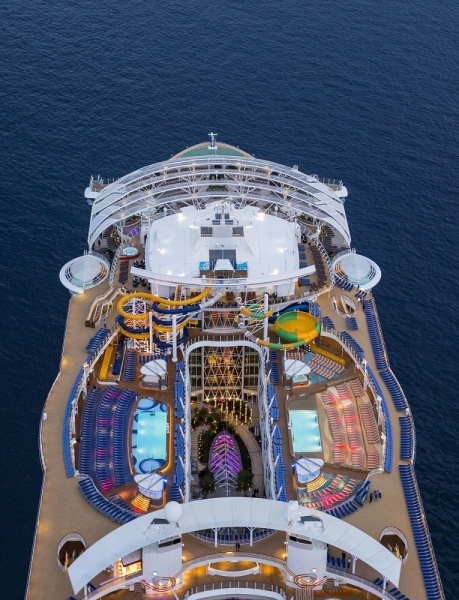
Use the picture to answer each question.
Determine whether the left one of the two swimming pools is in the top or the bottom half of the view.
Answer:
bottom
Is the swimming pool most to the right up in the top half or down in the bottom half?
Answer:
bottom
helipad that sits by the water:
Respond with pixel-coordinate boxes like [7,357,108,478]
[158,145,261,172]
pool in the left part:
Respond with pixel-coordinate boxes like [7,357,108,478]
[128,395,173,474]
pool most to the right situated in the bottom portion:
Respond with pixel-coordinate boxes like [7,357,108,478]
[282,390,327,460]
